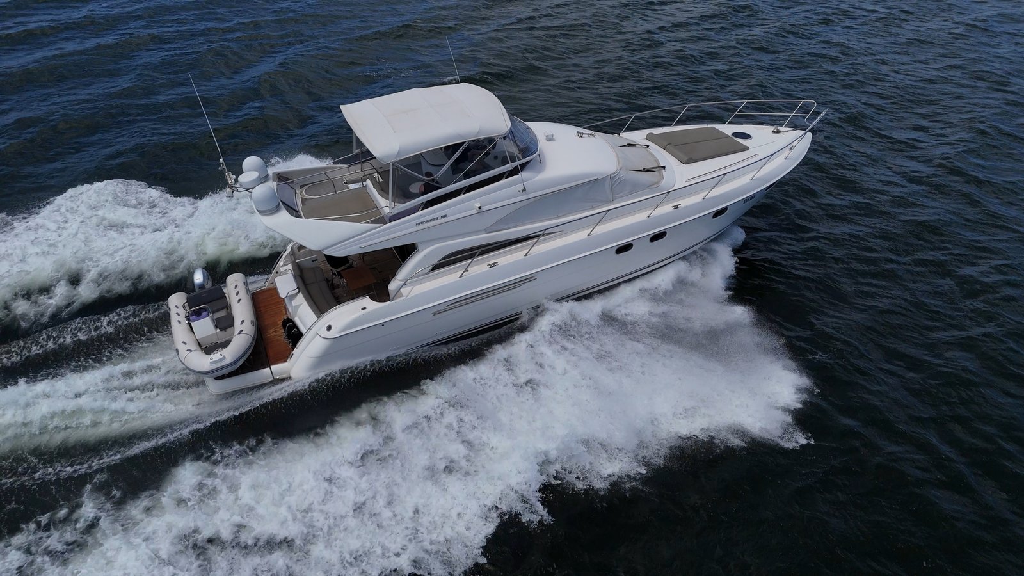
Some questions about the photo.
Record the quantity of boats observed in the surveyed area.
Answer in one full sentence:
Altogether the scene contains 2 boats.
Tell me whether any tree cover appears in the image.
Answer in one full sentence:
No, the picture contains no tree cover.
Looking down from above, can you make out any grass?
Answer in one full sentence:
No, grass can't be seen anywhere here.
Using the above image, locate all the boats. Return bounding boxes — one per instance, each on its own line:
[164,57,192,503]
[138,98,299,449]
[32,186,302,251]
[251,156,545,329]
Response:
[190,38,827,397]
[172,257,259,376]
